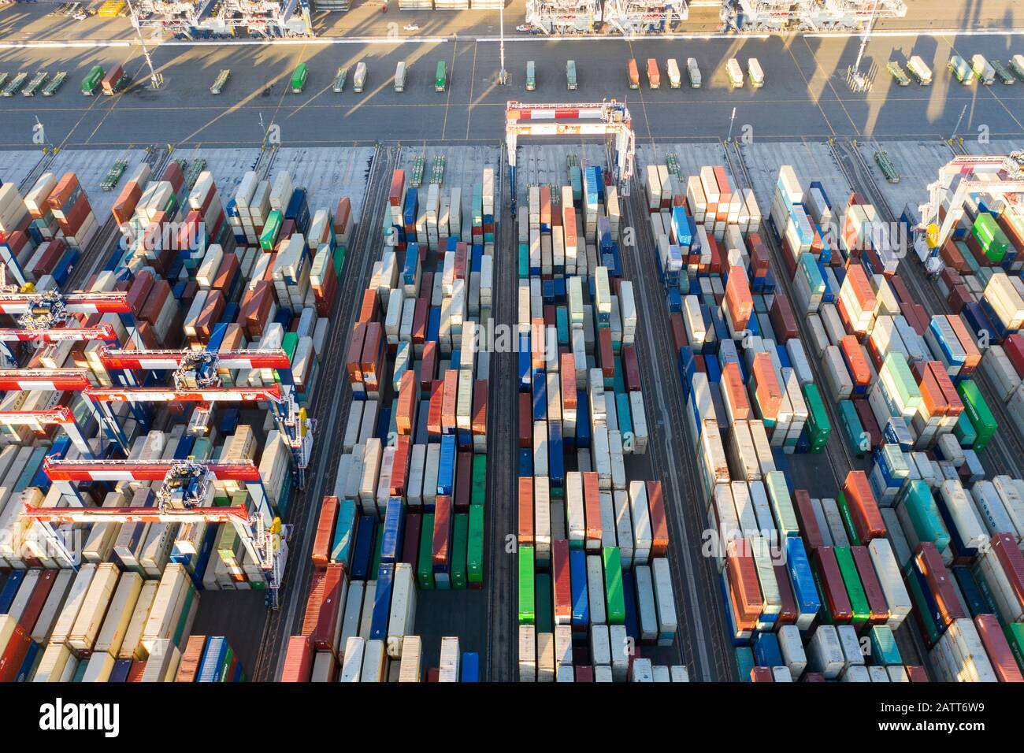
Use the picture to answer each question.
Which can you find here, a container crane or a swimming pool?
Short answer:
container crane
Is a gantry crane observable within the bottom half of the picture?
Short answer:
Yes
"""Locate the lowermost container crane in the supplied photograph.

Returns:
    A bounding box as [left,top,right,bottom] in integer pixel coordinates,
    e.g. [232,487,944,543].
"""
[31,451,302,618]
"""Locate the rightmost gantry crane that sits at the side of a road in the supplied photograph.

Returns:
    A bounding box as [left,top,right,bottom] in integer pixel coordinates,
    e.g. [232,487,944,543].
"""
[895,146,1024,271]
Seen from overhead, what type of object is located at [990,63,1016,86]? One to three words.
vehicle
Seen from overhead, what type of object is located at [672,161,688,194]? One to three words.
vehicle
